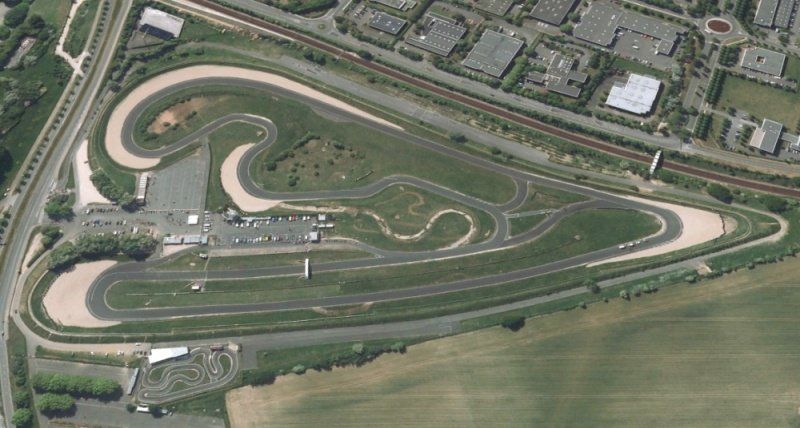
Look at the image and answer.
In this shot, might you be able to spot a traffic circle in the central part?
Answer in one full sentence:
No, I see no traffic circle in the central part.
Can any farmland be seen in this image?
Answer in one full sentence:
Yes, farmland shows up in the scene.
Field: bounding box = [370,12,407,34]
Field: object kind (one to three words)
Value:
building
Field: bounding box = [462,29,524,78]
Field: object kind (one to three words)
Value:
building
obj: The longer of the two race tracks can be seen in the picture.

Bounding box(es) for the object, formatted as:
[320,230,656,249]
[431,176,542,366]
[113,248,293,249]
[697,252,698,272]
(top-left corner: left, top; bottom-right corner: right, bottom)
[43,65,737,326]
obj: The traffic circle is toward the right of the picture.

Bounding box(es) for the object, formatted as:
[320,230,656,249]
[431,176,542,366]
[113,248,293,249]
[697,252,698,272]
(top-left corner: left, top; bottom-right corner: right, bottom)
[695,11,746,45]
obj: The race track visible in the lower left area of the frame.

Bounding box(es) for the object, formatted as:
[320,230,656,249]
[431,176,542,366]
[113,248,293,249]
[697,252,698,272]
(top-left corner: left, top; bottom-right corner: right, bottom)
[138,347,239,402]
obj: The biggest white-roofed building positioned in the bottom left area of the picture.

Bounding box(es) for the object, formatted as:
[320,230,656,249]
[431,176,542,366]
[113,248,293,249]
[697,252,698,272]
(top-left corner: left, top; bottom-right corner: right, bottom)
[148,347,188,364]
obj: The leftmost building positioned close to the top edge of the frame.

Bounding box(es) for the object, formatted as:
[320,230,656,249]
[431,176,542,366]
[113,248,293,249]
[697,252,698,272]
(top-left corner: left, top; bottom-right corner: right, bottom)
[138,6,184,40]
